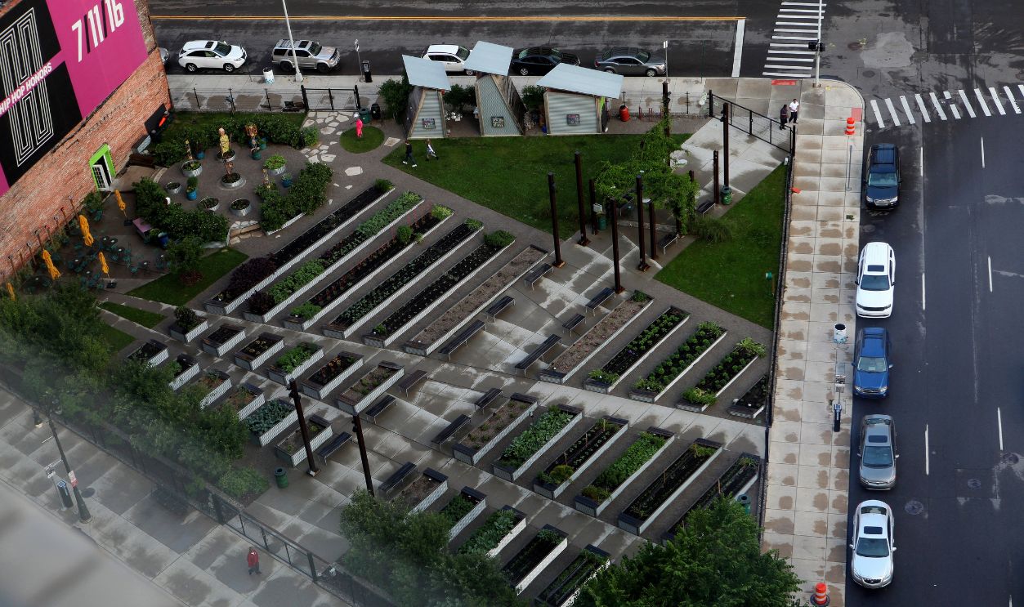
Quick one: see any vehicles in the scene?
Yes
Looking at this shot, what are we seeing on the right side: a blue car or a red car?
blue car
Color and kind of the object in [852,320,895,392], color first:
blue car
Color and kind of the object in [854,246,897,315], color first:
white car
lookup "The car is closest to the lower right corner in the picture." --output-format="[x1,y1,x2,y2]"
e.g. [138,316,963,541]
[849,497,898,584]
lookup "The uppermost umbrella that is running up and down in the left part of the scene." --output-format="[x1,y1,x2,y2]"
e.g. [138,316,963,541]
[117,190,130,225]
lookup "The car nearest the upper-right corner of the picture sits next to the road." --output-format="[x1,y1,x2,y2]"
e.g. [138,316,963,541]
[864,144,903,206]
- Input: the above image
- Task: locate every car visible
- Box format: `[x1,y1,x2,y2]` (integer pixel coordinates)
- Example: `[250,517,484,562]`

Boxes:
[158,47,170,65]
[418,37,475,73]
[849,497,898,584]
[176,37,247,71]
[595,42,668,73]
[864,144,903,206]
[857,414,902,487]
[510,42,580,72]
[852,320,895,392]
[854,246,897,315]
